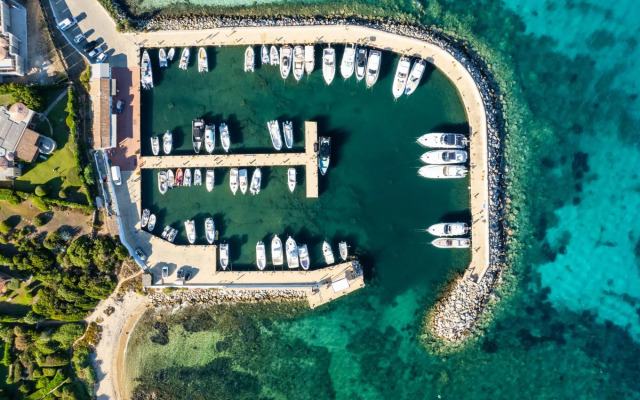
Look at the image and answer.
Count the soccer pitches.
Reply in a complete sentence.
The picture shows no soccer pitches.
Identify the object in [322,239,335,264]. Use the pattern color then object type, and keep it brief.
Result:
white boat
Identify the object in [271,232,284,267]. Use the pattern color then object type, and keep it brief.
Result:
white boat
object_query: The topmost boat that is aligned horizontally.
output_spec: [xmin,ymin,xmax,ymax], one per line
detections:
[409,132,471,148]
